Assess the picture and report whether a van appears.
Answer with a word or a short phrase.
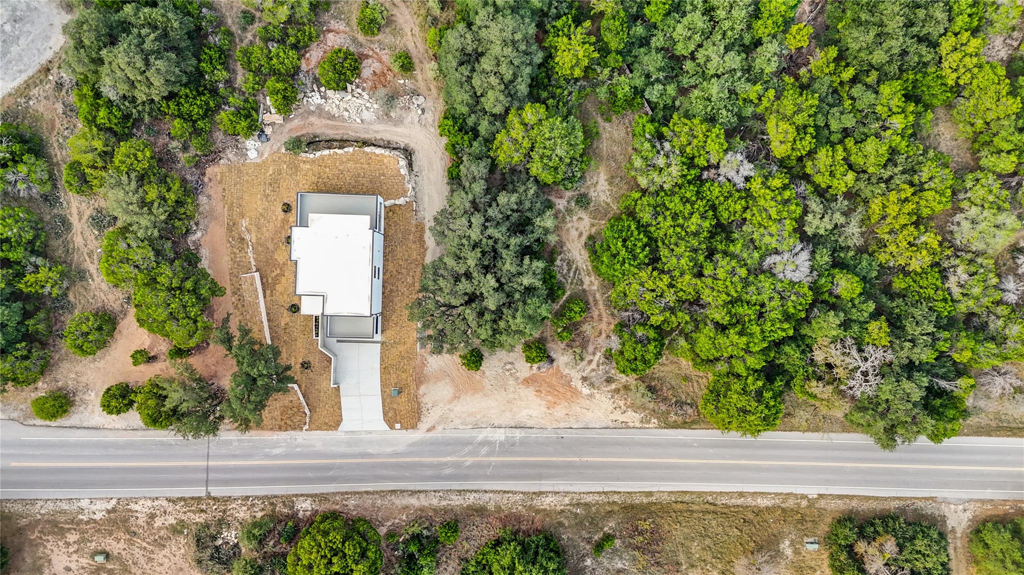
No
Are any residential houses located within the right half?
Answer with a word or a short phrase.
No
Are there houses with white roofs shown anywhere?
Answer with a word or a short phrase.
Yes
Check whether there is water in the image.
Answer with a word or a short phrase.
No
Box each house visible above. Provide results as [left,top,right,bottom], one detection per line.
[288,192,384,339]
